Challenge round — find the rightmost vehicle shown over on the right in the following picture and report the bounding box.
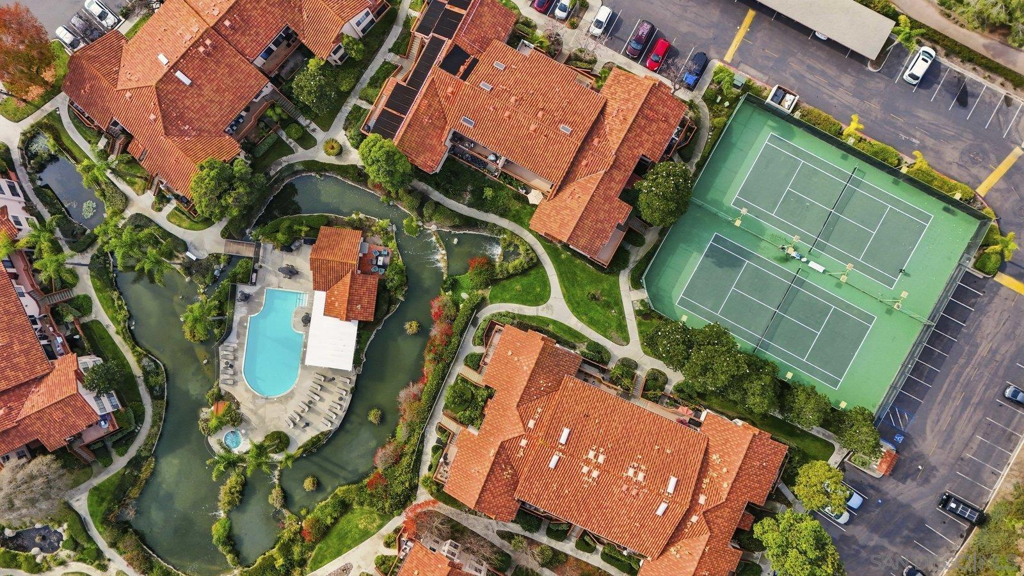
[1000,384,1024,408]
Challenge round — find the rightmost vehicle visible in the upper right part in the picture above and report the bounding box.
[902,47,934,87]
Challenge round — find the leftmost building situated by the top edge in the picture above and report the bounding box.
[60,0,375,217]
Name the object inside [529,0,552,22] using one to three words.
car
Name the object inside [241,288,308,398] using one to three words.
swimming pool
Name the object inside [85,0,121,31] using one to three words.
car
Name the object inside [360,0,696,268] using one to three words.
building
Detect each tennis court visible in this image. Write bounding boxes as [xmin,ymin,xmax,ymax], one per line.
[647,197,925,418]
[693,101,980,319]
